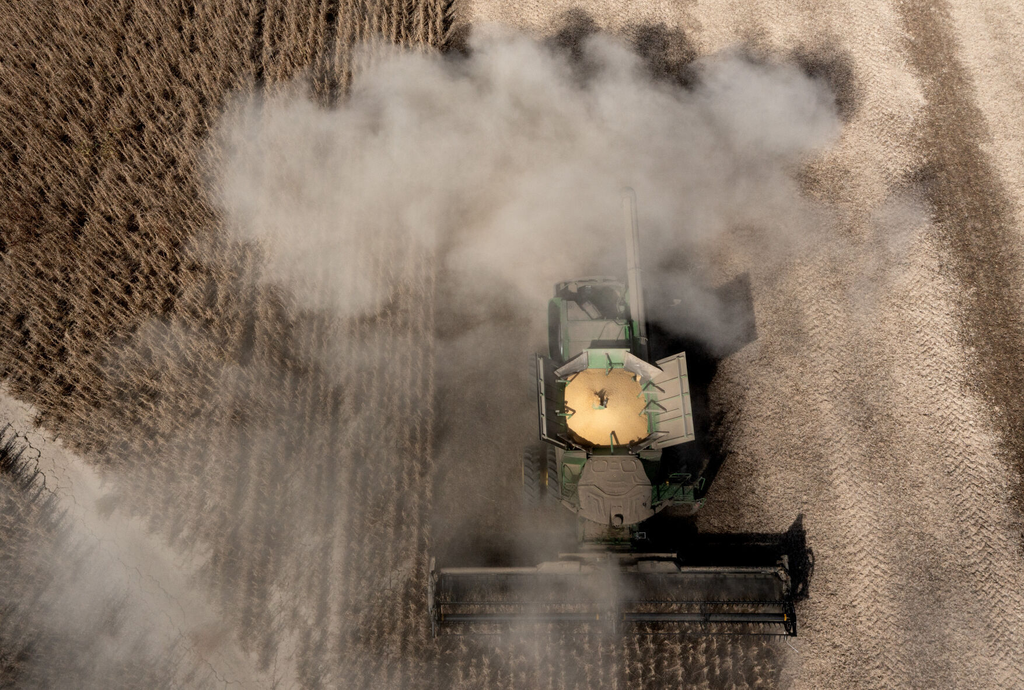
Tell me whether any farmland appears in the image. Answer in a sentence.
Yes, farmland shows up in the scene.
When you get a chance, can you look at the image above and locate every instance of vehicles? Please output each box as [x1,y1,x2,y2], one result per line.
[429,186,801,651]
